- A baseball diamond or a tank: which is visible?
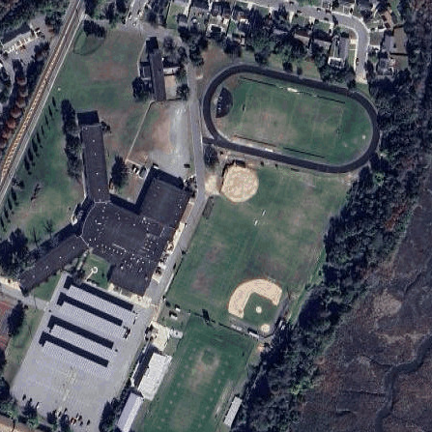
baseball diamond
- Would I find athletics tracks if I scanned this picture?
Yes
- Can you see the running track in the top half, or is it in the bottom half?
top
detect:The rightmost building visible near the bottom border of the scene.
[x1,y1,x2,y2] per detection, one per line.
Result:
[115,392,142,431]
